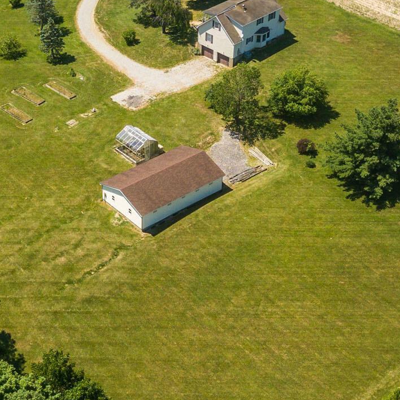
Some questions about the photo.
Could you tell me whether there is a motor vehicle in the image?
No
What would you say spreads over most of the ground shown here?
grass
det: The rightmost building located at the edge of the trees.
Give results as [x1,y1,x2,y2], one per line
[192,0,287,68]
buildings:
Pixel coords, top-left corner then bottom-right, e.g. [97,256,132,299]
[99,146,227,232]
[192,0,287,68]
[114,125,162,164]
